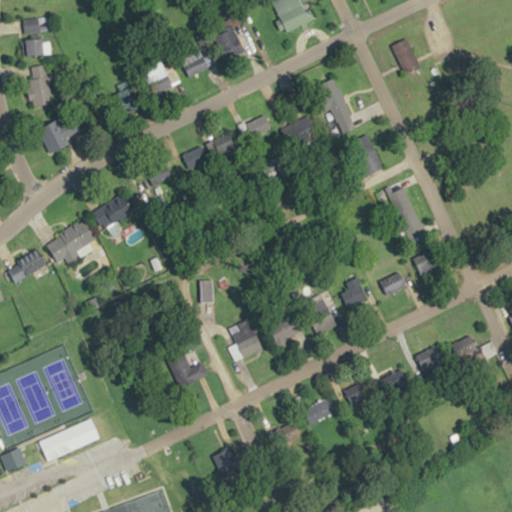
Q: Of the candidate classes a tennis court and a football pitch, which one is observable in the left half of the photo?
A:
tennis court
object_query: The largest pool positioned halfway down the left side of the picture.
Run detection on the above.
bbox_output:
[122,228,144,246]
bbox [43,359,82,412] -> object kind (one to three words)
tennis court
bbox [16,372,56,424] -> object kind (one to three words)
tennis court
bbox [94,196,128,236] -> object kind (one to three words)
house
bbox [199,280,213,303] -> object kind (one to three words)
building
